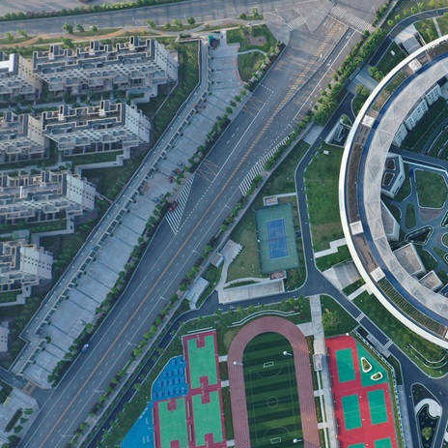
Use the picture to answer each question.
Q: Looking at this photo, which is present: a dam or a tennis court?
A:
tennis court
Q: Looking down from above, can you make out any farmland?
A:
No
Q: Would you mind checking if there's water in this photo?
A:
No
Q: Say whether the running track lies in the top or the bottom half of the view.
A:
bottom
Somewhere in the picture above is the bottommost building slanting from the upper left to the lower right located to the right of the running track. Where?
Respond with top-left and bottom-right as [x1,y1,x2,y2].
[358,332,391,358]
